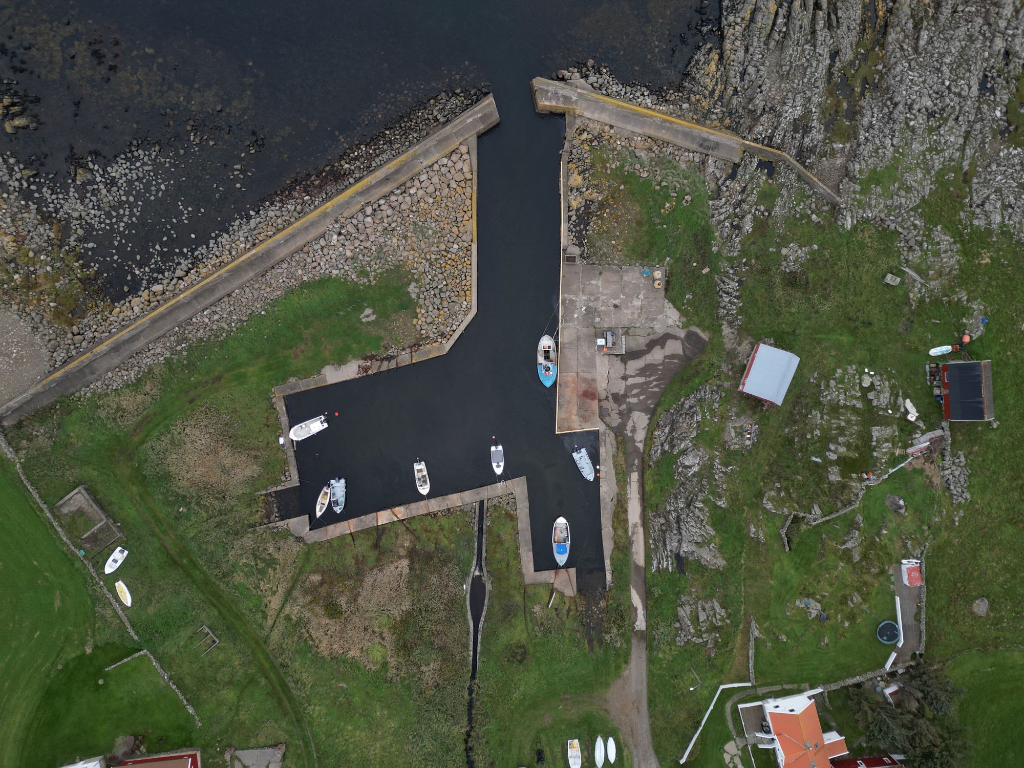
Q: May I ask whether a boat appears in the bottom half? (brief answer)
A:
Yes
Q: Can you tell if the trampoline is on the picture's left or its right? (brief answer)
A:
right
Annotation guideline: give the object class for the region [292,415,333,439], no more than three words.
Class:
boat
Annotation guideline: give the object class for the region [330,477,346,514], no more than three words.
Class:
boat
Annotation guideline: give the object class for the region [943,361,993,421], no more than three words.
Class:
shed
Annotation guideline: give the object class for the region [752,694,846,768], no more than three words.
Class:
house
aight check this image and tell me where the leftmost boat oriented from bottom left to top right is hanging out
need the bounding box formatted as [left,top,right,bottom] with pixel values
[105,545,129,574]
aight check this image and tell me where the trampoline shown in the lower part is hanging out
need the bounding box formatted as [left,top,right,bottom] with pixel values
[878,623,902,646]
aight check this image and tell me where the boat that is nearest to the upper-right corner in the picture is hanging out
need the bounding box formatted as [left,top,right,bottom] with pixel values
[927,344,952,357]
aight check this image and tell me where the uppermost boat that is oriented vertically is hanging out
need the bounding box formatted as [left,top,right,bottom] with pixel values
[537,335,557,388]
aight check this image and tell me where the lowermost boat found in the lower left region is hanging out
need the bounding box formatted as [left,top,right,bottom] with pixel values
[117,581,133,607]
